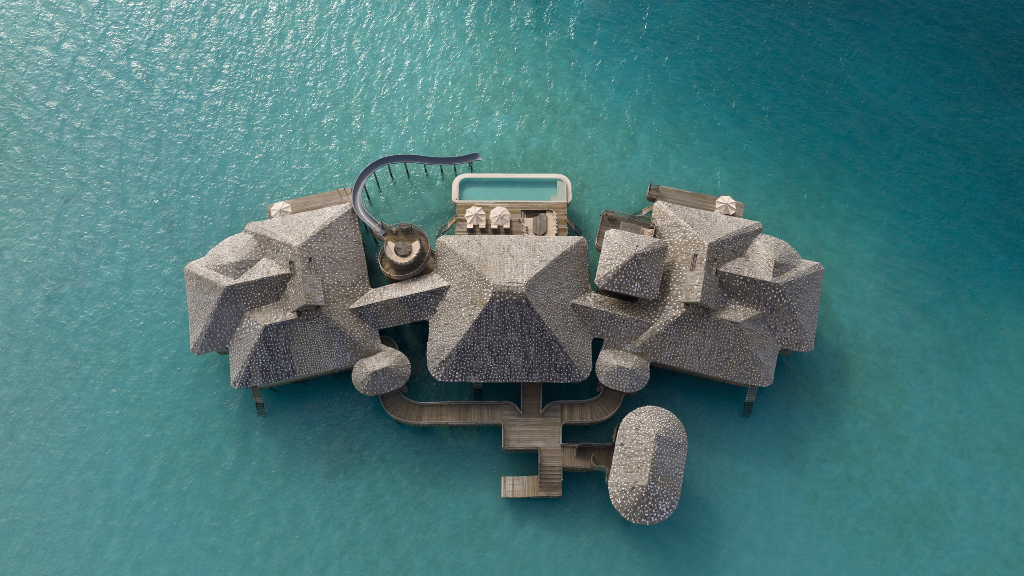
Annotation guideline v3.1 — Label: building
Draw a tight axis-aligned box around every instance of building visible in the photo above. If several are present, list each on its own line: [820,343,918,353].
[426,235,593,383]
[183,202,383,389]
[608,406,689,526]
[628,200,826,388]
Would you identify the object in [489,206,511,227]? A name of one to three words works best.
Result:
umbrella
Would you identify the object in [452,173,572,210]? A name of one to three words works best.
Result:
swimming pool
